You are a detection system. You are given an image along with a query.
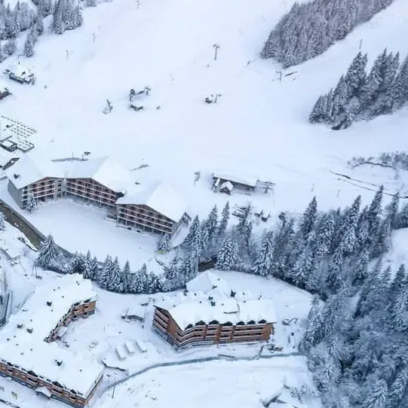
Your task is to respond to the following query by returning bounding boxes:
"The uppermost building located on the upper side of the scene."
[9,60,41,84]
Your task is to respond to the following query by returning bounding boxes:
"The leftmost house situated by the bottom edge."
[0,272,106,408]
